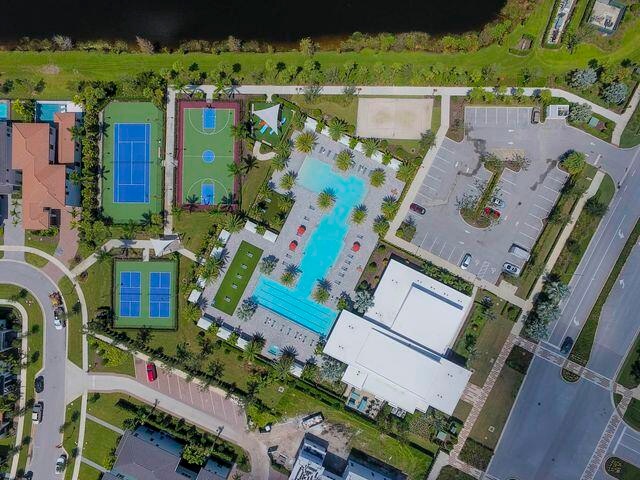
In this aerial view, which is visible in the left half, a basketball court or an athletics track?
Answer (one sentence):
There is a basketball court in the left half.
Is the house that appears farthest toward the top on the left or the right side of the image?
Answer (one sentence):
It is on the right.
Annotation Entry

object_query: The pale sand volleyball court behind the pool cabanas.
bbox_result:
[356,97,434,139]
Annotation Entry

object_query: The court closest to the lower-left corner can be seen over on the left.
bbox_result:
[113,260,178,329]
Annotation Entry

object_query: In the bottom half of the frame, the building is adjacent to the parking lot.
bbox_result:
[323,259,473,416]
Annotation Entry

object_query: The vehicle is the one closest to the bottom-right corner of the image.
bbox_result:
[559,335,572,353]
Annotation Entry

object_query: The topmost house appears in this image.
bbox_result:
[589,0,629,32]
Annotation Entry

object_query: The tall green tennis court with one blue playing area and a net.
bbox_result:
[102,101,162,222]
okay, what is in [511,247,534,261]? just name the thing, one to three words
vehicle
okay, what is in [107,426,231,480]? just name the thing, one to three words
house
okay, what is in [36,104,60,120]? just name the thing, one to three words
swimming pool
